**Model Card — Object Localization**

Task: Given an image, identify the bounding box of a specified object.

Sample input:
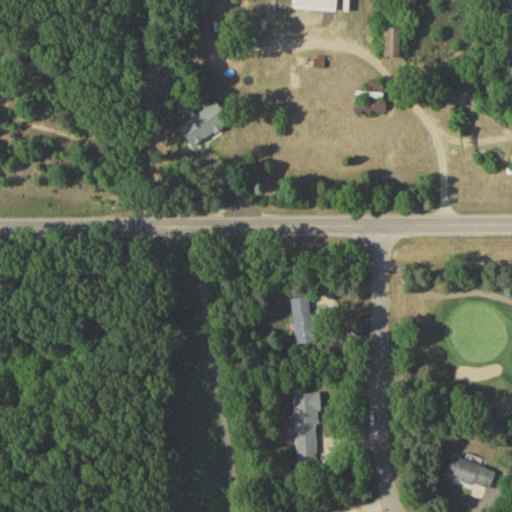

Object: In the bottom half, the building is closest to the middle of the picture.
[290,296,316,345]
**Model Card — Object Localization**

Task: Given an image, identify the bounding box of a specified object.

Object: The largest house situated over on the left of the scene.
[182,102,226,150]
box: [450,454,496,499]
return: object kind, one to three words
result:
house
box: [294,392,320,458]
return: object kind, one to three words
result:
house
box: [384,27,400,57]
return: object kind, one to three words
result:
shed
